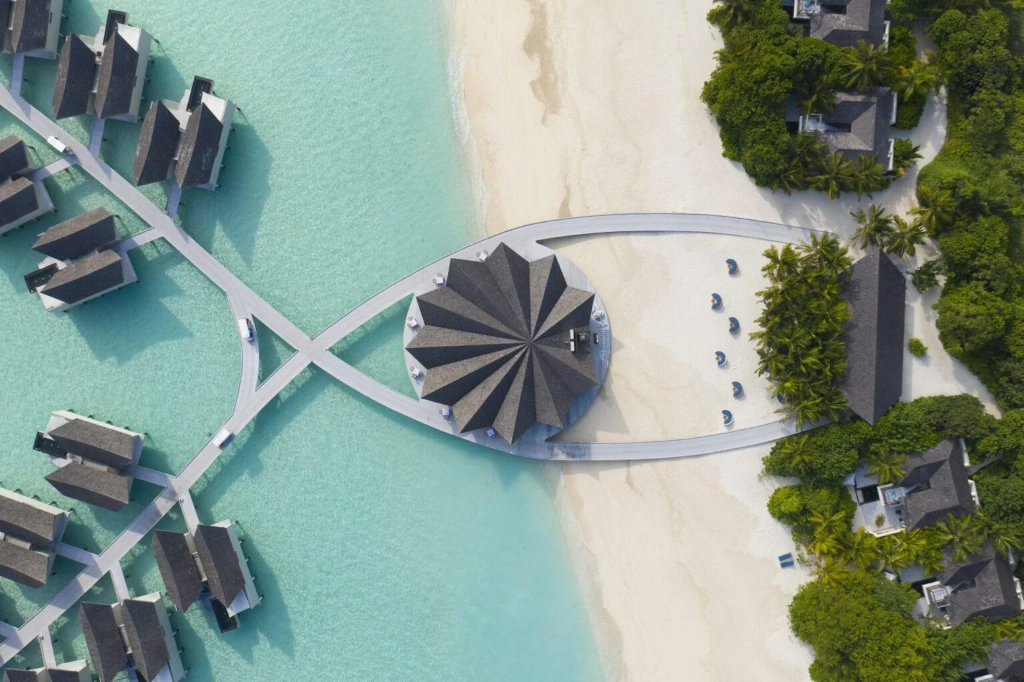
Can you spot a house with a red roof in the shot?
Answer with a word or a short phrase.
No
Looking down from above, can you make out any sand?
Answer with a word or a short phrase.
Yes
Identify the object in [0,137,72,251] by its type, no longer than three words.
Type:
house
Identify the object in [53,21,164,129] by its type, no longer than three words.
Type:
house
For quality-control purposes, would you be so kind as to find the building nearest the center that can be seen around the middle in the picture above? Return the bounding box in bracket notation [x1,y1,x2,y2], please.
[401,225,612,459]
